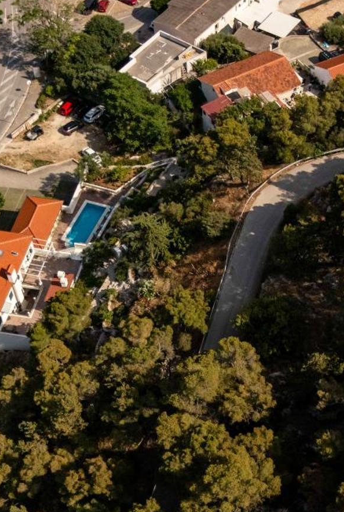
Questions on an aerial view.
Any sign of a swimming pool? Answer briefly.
Yes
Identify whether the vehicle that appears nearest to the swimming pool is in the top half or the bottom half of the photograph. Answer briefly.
top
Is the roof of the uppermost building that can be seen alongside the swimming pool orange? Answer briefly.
Yes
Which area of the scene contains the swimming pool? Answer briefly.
left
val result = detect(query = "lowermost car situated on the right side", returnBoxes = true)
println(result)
[314,48,338,62]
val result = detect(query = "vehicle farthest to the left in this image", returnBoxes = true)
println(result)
[23,125,47,143]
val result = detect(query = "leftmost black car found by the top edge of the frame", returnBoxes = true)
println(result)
[82,0,97,13]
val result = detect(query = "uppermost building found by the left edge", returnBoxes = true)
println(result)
[10,197,63,263]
